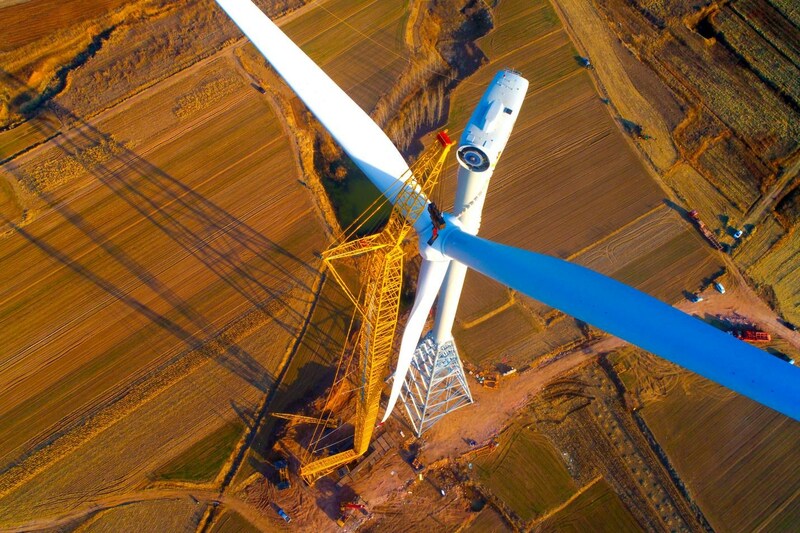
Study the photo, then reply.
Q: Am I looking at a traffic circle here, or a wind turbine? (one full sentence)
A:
I can see a wind turbine in this picture.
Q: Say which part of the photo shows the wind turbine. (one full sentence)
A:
The wind turbine is located in the center region of the scene.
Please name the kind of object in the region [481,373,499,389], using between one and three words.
work vehicle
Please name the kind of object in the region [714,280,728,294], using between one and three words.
vehicle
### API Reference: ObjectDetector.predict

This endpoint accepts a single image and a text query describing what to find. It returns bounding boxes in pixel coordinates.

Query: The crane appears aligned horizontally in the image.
[271,413,360,433]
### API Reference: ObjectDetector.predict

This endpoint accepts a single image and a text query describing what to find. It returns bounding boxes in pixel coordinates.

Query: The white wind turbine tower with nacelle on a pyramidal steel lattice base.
[380,50,529,442]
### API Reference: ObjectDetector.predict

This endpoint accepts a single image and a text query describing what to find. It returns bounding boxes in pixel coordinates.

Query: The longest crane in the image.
[300,108,458,481]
